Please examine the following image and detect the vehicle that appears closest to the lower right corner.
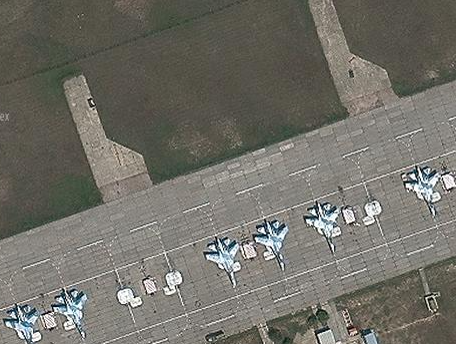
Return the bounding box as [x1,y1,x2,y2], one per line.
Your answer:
[341,308,358,338]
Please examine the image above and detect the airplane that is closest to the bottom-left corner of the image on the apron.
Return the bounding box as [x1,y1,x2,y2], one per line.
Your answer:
[3,304,40,344]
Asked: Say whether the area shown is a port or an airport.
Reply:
airport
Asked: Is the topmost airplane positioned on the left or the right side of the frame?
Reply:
right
